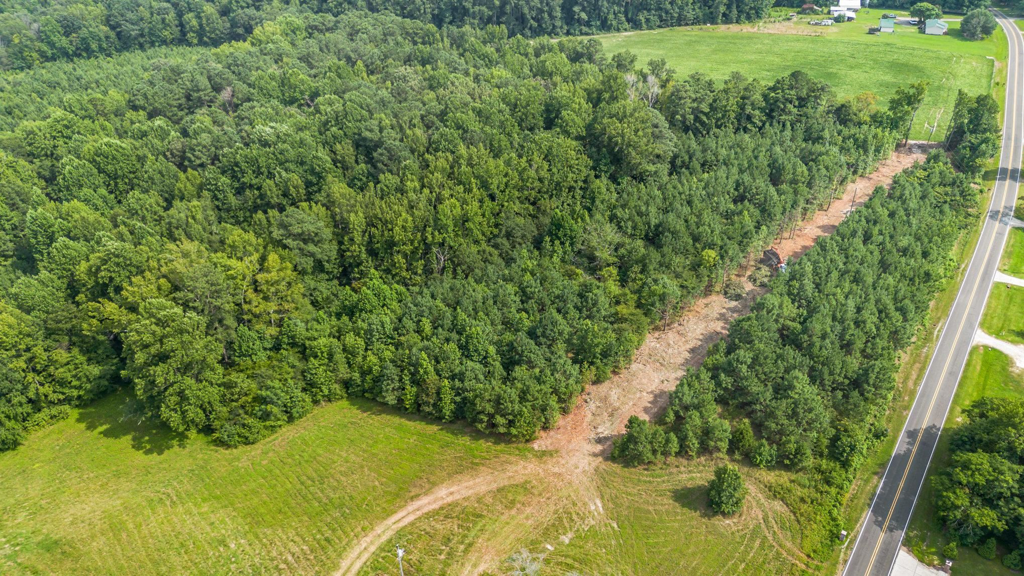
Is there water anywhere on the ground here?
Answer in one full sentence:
No, water can't be seen anywhere here.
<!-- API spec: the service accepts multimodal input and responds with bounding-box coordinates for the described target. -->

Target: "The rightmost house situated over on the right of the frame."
[916,21,951,35]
